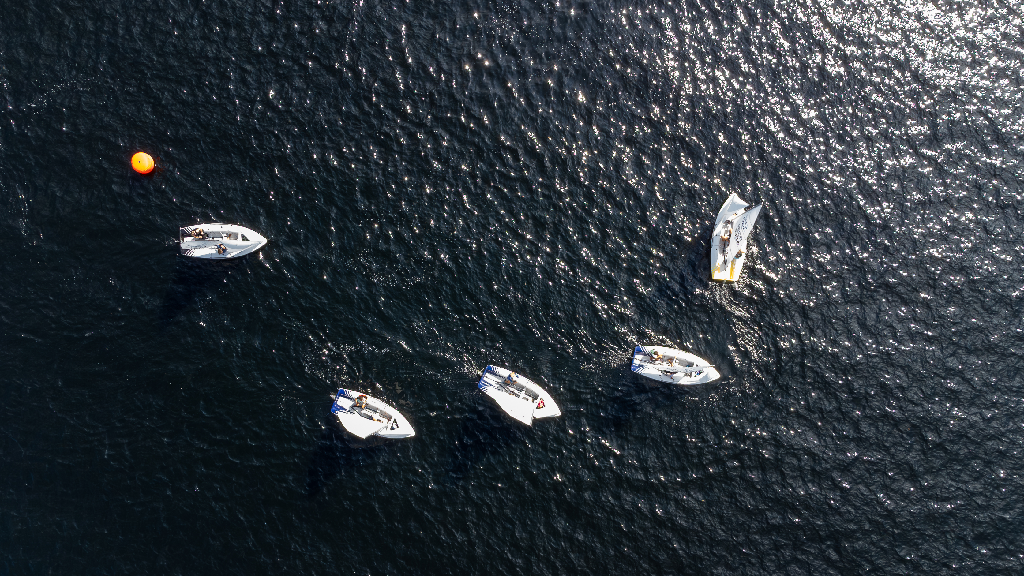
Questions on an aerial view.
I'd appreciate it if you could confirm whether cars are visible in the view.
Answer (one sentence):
No, there appears to be no car in this shot.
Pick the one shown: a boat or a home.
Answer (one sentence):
This aerial view contains a boat.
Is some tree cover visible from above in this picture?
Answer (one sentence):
No, no tree cover is visible.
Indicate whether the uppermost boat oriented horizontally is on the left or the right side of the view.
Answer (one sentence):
The uppermost boat oriented horizontally sits on the left side.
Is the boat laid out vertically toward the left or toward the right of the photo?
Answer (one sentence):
You can find the boat laid out vertically on the right side of the picture.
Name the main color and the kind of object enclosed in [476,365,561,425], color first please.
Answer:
white boat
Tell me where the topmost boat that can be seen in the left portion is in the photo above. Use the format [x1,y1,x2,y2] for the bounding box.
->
[175,224,266,260]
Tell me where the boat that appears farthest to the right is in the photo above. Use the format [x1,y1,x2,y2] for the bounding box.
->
[710,192,761,287]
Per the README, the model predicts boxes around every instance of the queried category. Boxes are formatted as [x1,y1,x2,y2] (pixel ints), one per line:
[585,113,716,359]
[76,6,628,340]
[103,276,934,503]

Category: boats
[710,192,761,287]
[175,224,266,260]
[476,365,561,425]
[330,388,415,441]
[627,344,720,385]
